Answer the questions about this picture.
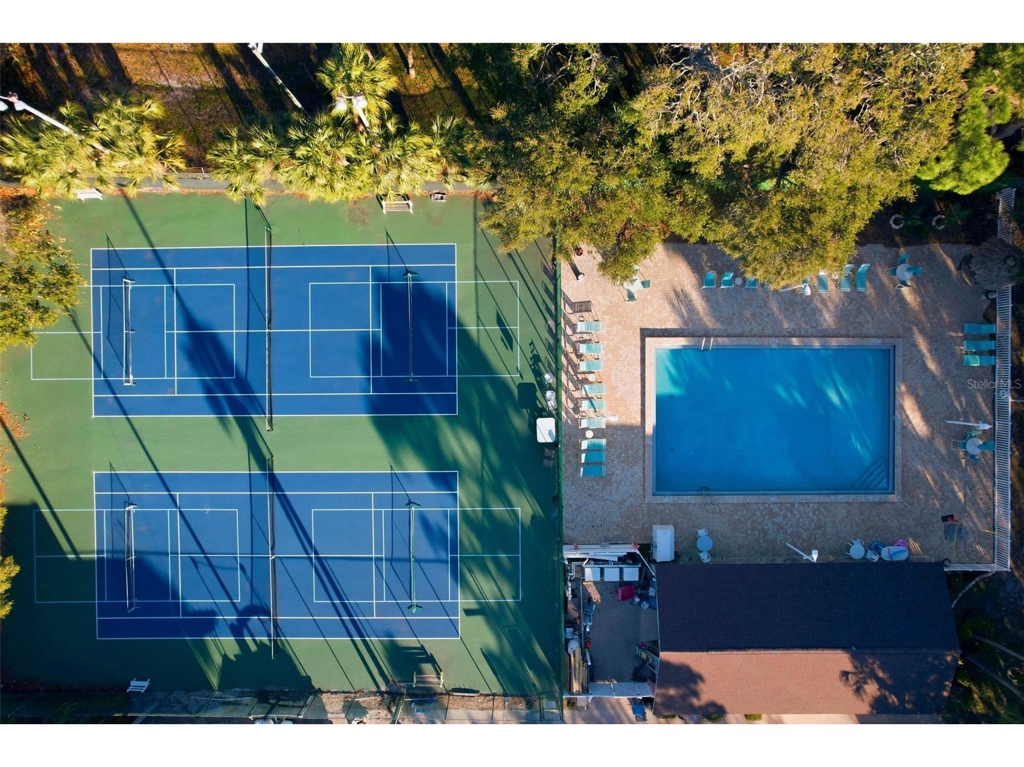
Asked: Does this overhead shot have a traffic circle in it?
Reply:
No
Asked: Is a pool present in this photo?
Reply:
Yes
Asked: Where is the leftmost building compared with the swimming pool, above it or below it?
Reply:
below it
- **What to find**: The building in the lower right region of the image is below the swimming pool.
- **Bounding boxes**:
[654,559,961,715]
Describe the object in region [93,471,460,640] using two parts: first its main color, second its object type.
blue tennis court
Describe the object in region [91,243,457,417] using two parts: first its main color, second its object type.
blue tennis court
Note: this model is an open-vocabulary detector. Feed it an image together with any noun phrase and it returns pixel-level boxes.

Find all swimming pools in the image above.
[646,338,903,503]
